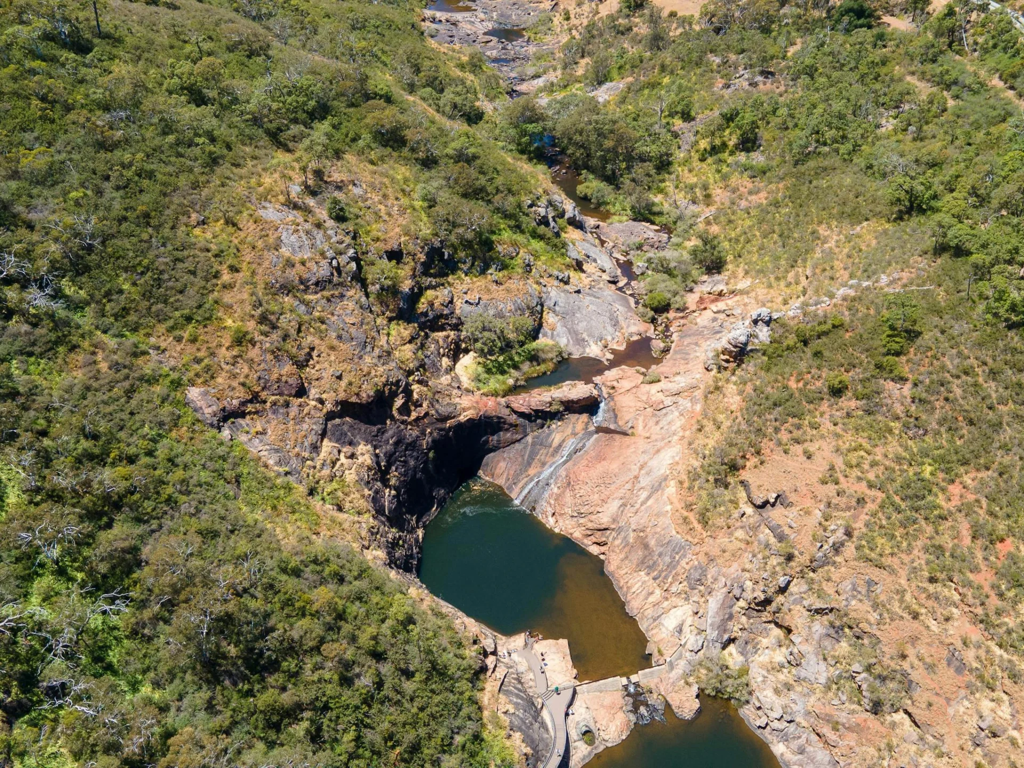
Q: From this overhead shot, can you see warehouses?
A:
No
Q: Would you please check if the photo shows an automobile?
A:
No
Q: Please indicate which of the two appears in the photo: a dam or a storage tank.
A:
dam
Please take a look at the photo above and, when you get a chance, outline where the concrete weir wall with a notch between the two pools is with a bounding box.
[574,637,691,694]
